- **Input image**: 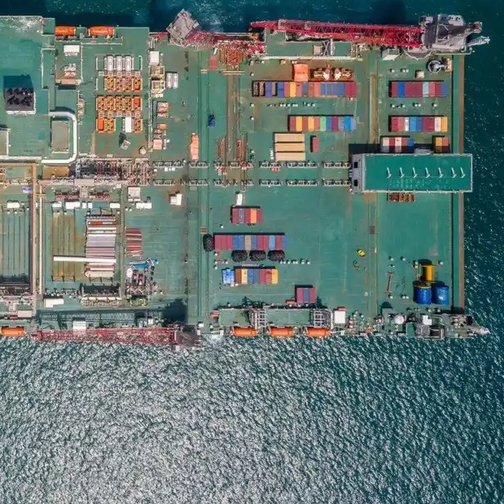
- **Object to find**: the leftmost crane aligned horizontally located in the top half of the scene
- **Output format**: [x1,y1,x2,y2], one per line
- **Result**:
[159,10,265,57]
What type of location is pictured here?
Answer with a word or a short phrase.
port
